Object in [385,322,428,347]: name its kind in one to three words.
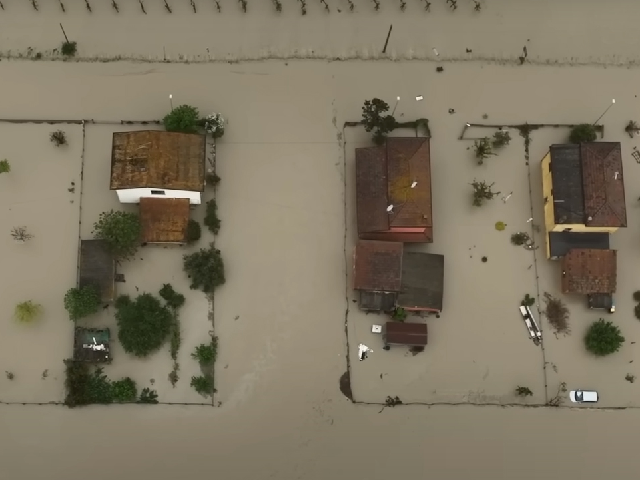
shed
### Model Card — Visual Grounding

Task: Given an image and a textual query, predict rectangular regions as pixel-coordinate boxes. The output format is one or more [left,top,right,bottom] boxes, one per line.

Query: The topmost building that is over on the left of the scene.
[109,130,207,245]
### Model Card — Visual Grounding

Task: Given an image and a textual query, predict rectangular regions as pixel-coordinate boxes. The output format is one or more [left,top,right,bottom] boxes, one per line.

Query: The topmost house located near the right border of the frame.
[542,142,627,262]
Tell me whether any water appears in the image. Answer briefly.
Yes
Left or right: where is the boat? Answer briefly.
right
